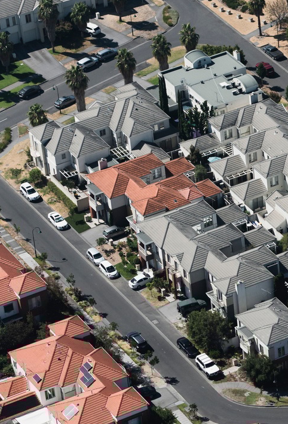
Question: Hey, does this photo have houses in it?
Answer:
Yes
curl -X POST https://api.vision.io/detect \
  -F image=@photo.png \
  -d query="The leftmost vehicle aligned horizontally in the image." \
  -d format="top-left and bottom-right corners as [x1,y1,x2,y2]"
[16,83,44,97]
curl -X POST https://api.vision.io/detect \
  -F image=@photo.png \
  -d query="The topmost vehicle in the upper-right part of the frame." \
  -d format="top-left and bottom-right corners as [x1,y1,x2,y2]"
[262,43,285,58]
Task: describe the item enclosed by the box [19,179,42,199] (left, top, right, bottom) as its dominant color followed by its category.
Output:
white car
